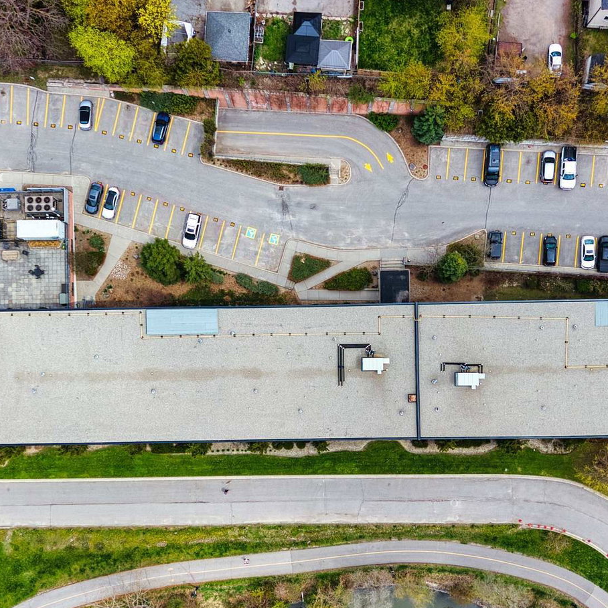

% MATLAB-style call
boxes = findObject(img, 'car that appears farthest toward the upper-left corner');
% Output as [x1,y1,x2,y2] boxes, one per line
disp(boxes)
[77,98,94,133]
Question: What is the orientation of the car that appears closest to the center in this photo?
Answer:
from top to bottom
